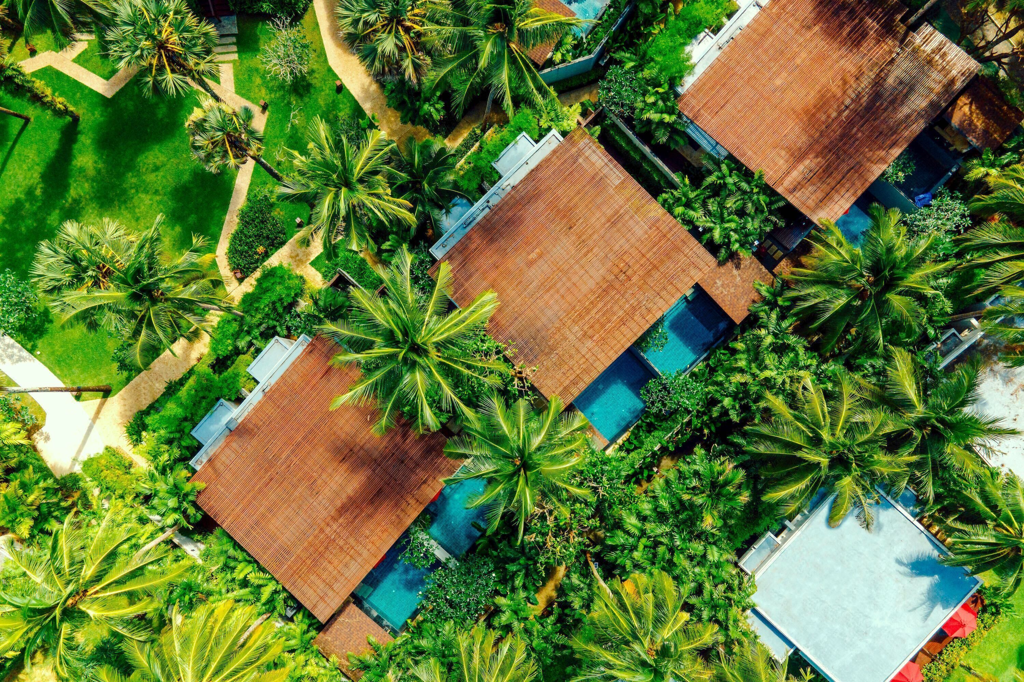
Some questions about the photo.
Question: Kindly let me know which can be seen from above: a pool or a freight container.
pool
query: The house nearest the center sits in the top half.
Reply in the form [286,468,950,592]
[427,126,717,411]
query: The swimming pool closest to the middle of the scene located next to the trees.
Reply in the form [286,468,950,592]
[568,350,660,446]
